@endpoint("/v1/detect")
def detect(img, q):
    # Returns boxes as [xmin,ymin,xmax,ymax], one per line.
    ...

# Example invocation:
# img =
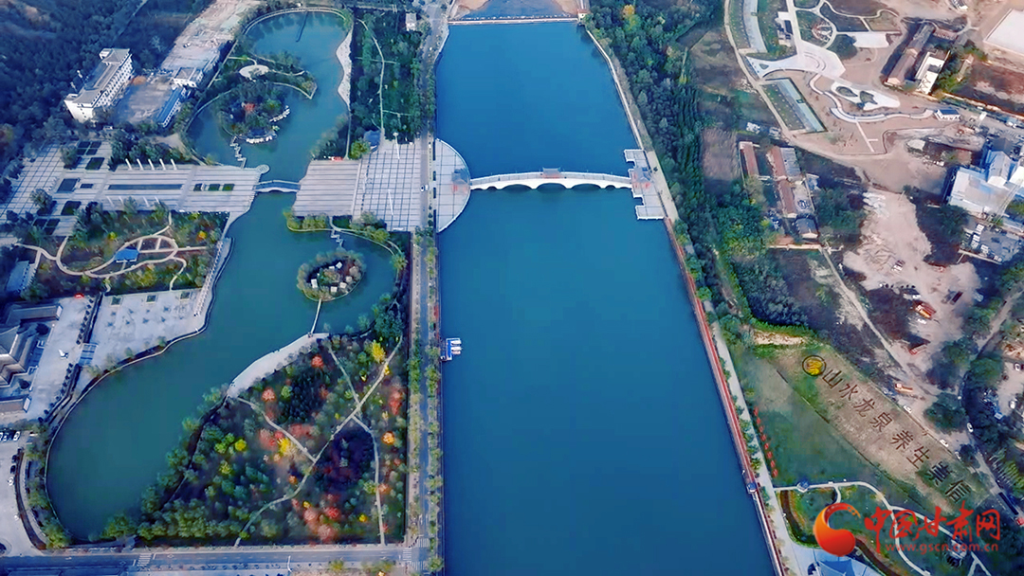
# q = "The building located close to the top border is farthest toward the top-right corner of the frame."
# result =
[983,5,1024,59]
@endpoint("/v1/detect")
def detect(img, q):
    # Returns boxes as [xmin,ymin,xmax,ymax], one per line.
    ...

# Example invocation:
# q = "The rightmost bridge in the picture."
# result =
[468,171,633,190]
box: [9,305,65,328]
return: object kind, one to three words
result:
building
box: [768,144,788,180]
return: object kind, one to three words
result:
barn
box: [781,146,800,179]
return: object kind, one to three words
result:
barn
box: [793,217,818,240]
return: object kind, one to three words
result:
house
